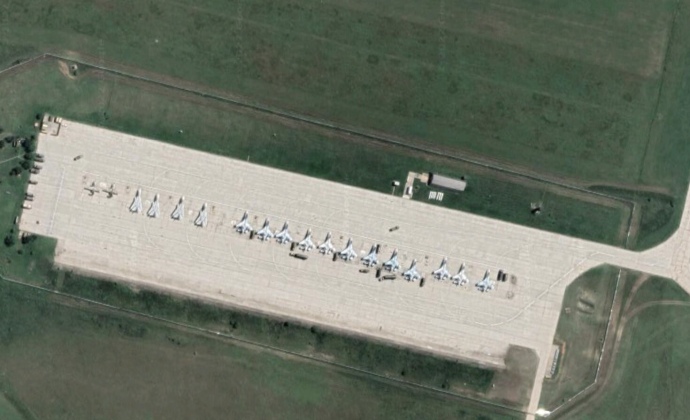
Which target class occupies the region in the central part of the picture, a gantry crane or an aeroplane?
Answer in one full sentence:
Visible in the central part of the picture is an aeroplane.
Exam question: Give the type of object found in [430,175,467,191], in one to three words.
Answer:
building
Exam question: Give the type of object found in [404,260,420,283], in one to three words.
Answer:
airplane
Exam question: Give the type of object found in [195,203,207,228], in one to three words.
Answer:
airplane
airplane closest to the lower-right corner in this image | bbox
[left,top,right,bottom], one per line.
[477,270,493,294]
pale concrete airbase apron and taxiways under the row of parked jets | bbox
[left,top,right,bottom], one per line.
[19,113,690,367]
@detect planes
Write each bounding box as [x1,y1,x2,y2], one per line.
[172,196,185,221]
[256,218,272,242]
[340,237,356,262]
[102,183,117,200]
[453,264,469,287]
[384,250,401,273]
[299,229,315,251]
[147,194,159,218]
[477,270,493,294]
[404,260,420,283]
[435,257,451,280]
[195,203,207,228]
[129,189,142,214]
[318,232,335,256]
[83,181,99,198]
[363,245,380,268]
[275,222,291,245]
[235,212,251,235]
